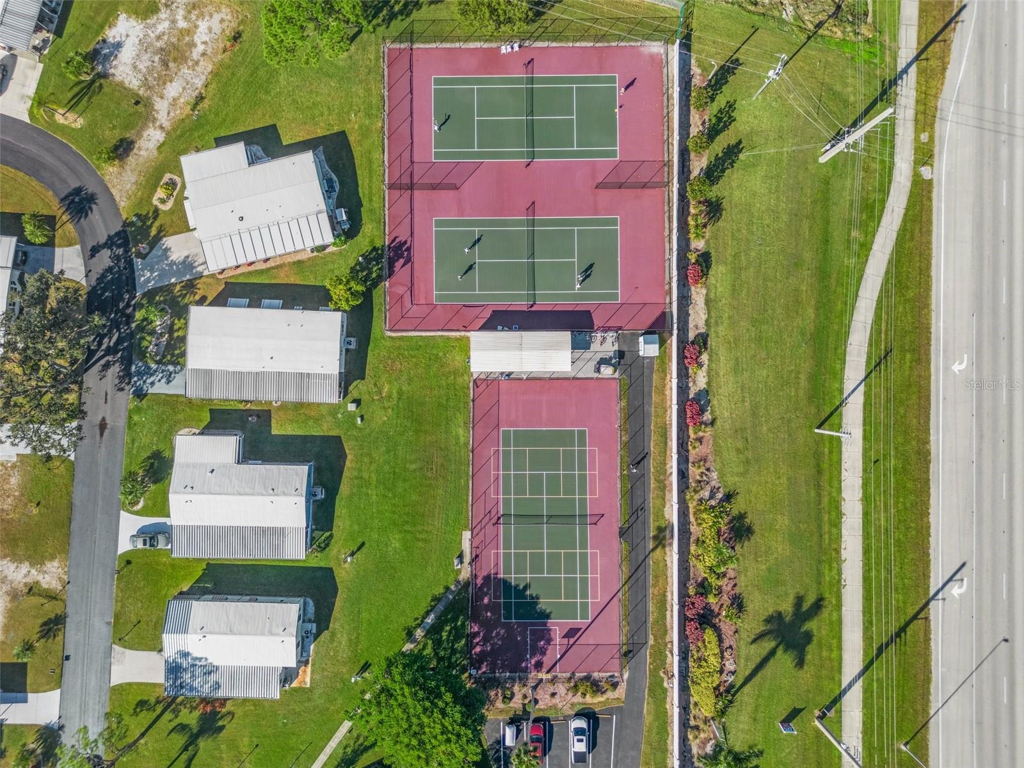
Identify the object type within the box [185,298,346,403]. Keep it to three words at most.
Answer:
house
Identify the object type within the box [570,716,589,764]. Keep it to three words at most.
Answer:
vehicle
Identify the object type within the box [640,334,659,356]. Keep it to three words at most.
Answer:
shed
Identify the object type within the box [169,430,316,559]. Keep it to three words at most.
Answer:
house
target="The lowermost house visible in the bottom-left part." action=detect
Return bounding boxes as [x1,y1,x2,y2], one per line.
[162,594,304,699]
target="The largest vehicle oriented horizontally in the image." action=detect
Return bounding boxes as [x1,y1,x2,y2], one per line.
[129,533,169,552]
